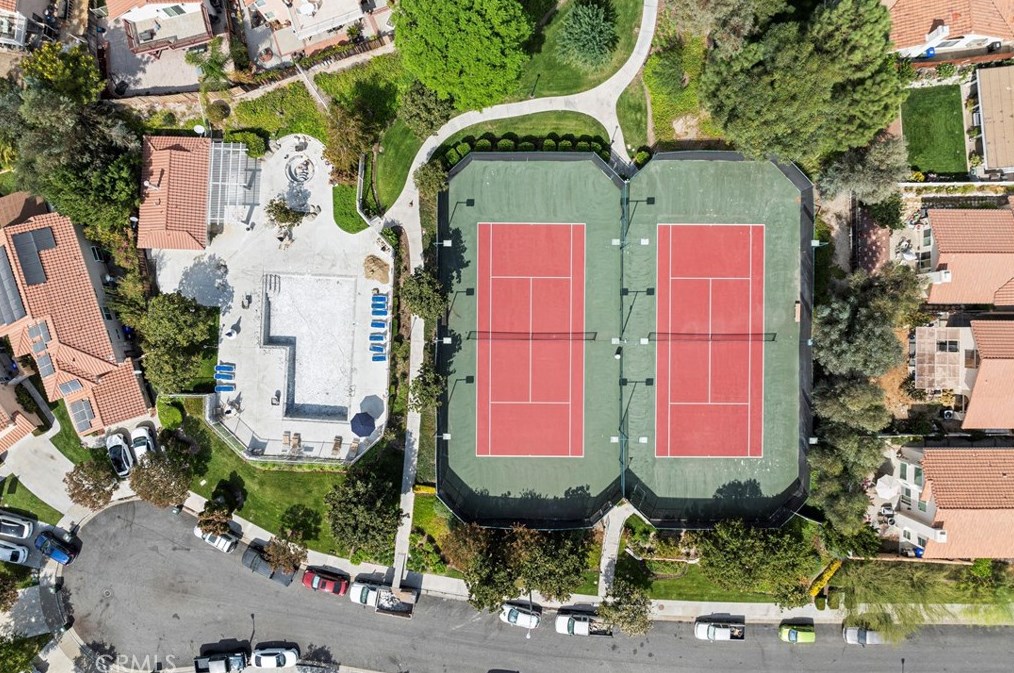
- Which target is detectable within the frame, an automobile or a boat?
automobile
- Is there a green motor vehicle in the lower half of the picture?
Yes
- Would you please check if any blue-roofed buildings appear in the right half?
No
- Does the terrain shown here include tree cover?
Yes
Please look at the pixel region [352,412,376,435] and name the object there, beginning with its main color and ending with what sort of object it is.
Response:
blue umbrella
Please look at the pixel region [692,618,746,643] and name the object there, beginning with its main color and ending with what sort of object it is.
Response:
white truck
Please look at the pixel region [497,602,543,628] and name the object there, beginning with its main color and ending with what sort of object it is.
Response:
white car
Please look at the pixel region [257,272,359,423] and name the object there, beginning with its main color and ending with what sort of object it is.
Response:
white swimming pool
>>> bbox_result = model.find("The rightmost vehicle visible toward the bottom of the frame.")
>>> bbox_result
[840,623,890,647]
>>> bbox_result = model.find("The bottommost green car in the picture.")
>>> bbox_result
[777,622,816,645]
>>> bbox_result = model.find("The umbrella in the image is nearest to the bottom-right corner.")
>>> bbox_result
[872,474,897,498]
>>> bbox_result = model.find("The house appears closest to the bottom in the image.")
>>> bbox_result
[893,442,1014,558]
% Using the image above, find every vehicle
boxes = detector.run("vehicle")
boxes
[190,522,243,558]
[33,529,79,567]
[105,432,136,480]
[301,567,352,595]
[131,428,157,474]
[692,618,746,643]
[497,602,543,628]
[239,547,299,589]
[0,539,30,565]
[840,623,890,647]
[350,582,417,618]
[251,644,300,670]
[193,650,251,673]
[555,611,613,637]
[777,622,816,645]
